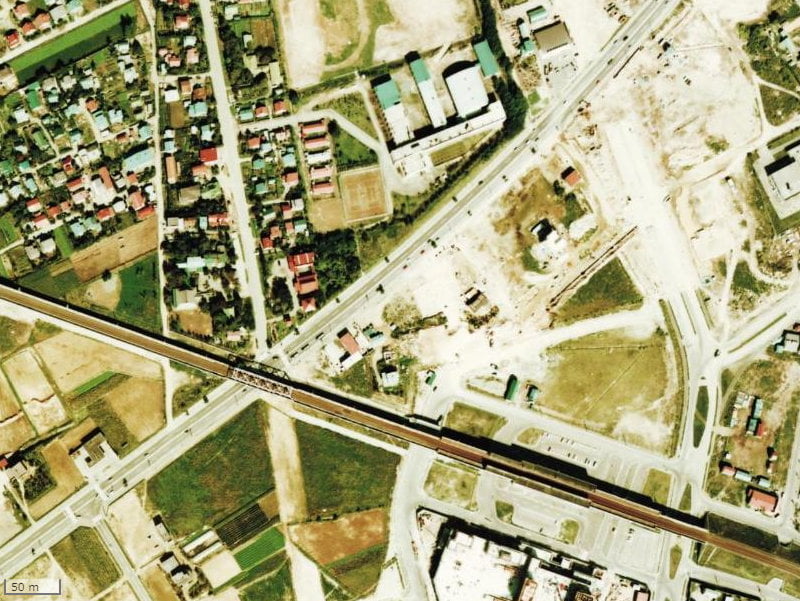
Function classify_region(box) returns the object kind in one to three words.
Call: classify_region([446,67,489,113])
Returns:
building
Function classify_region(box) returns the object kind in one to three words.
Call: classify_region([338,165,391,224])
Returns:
sports court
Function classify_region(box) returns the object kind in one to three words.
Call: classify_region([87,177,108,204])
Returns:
house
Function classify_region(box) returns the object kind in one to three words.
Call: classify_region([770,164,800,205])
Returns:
building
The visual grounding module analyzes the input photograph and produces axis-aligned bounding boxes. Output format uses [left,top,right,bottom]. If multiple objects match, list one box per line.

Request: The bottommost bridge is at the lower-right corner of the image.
[659,514,711,546]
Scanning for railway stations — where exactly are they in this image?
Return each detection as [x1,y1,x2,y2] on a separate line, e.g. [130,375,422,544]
[438,432,666,531]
